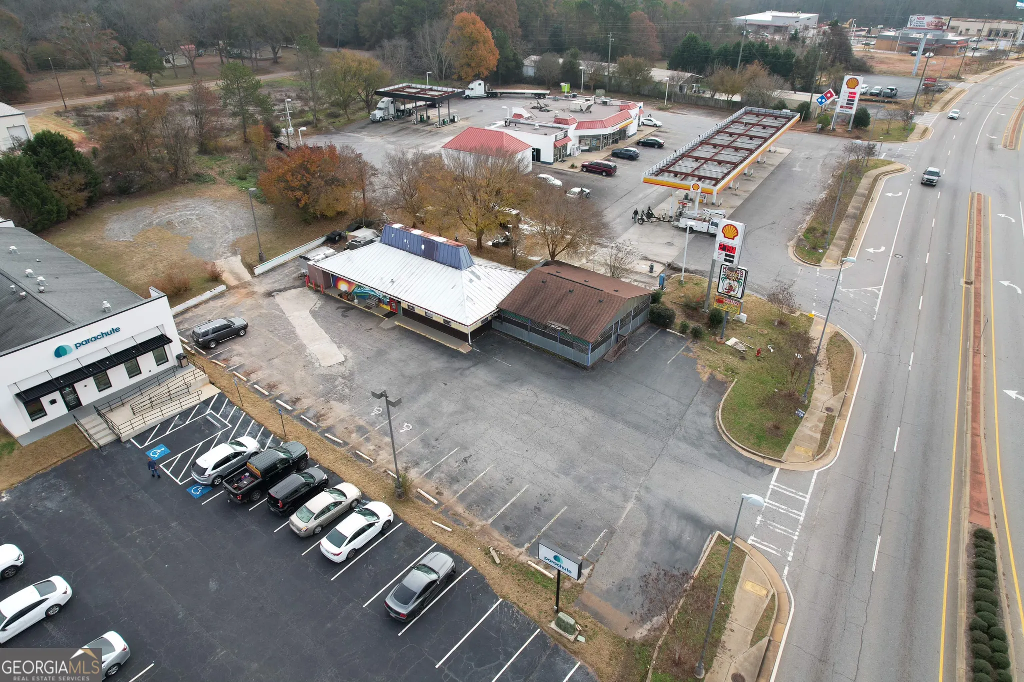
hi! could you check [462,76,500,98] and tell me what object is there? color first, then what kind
white truck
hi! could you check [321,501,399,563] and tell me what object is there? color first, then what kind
white car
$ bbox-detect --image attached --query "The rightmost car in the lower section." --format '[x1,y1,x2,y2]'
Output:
[383,549,460,624]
